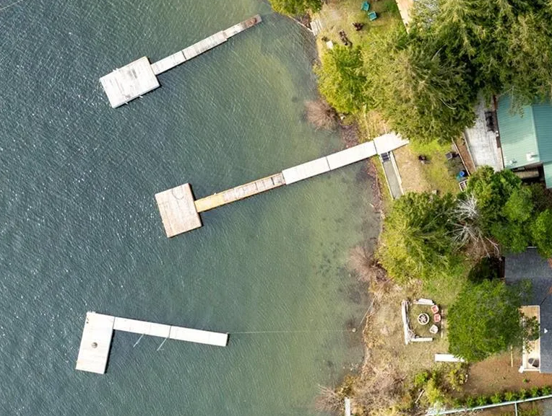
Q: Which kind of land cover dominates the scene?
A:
water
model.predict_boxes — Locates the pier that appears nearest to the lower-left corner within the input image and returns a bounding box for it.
[76,312,229,374]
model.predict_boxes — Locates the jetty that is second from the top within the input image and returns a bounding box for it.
[156,132,408,238]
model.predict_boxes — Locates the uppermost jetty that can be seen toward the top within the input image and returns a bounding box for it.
[100,15,263,108]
